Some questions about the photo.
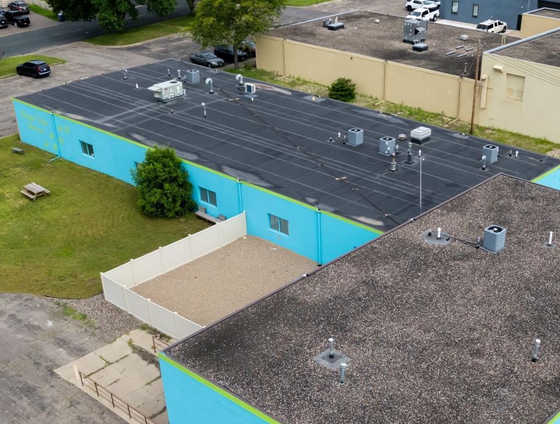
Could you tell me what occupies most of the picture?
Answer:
buildings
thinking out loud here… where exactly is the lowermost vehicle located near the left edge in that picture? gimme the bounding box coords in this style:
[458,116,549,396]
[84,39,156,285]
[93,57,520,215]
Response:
[11,55,47,76]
